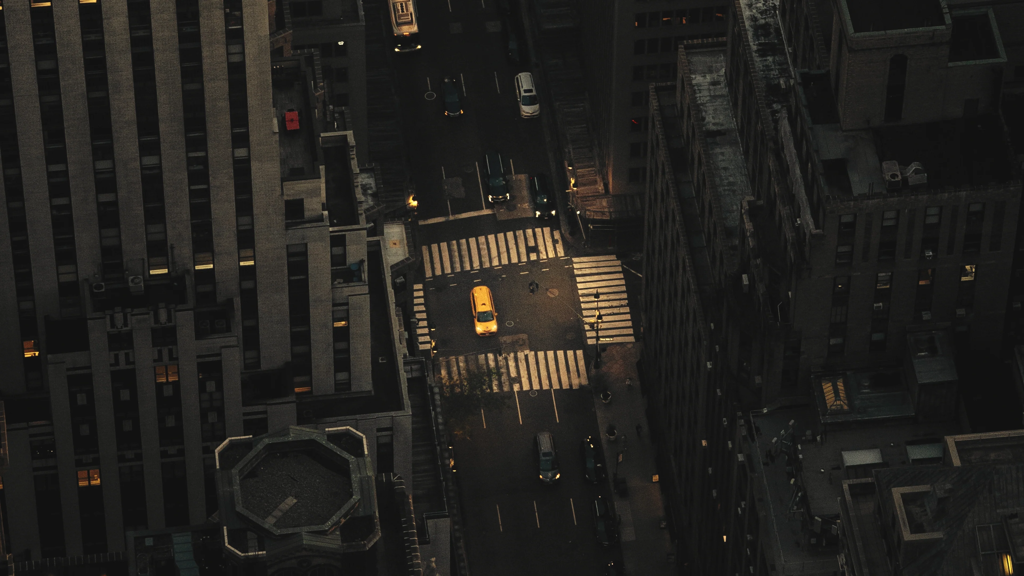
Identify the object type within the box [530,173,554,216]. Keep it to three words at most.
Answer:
car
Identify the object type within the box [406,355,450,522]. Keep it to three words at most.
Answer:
shed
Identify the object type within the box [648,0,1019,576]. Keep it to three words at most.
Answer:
building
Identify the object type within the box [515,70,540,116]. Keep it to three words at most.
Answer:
car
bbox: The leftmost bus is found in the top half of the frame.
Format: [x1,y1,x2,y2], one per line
[389,0,424,52]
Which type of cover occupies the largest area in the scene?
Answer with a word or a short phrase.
buildings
